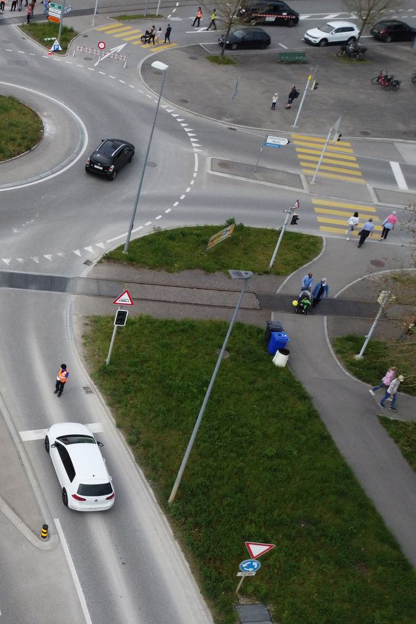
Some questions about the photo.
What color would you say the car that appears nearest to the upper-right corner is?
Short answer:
black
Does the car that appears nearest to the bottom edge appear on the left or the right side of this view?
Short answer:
left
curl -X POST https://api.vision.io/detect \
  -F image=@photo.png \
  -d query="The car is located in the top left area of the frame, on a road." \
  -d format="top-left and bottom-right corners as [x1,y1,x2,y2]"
[85,138,138,181]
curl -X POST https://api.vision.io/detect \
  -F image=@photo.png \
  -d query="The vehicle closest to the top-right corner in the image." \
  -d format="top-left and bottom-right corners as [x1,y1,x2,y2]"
[371,17,416,42]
